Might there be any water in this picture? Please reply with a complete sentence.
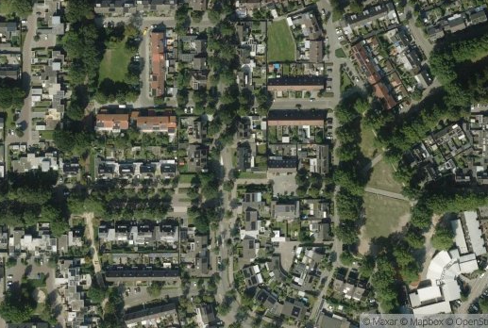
No, the scene doesn't show any water.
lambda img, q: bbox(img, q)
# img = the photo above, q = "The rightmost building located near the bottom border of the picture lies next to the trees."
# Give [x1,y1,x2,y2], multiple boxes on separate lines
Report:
[409,211,487,328]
